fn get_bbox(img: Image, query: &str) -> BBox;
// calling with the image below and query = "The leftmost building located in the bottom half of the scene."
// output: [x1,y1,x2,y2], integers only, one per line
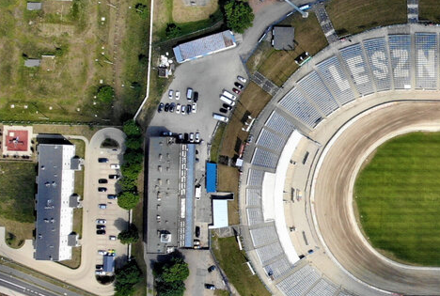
[33,144,84,261]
